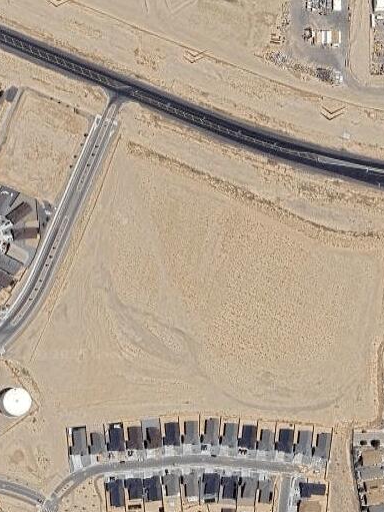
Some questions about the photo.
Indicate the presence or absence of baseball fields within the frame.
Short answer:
No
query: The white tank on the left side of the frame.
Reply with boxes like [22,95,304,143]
[1,387,31,416]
